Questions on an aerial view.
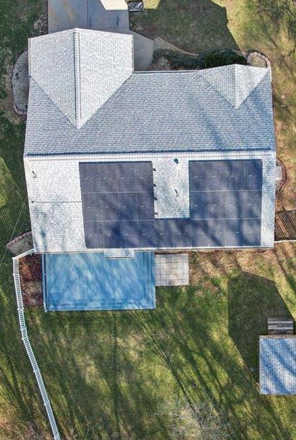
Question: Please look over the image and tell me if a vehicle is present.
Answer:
No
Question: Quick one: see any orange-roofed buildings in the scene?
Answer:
No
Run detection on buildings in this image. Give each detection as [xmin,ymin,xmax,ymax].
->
[24,28,276,259]
[258,318,296,395]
